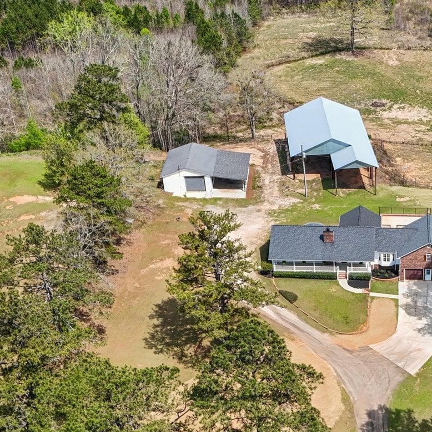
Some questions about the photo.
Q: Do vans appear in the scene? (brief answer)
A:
No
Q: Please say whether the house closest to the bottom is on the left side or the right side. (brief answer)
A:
right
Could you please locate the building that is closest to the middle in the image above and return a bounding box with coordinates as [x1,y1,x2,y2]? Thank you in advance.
[155,142,263,198]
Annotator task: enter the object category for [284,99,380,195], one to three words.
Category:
barn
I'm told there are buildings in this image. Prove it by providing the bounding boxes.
[269,207,432,282]
[284,99,380,195]
[155,142,263,198]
